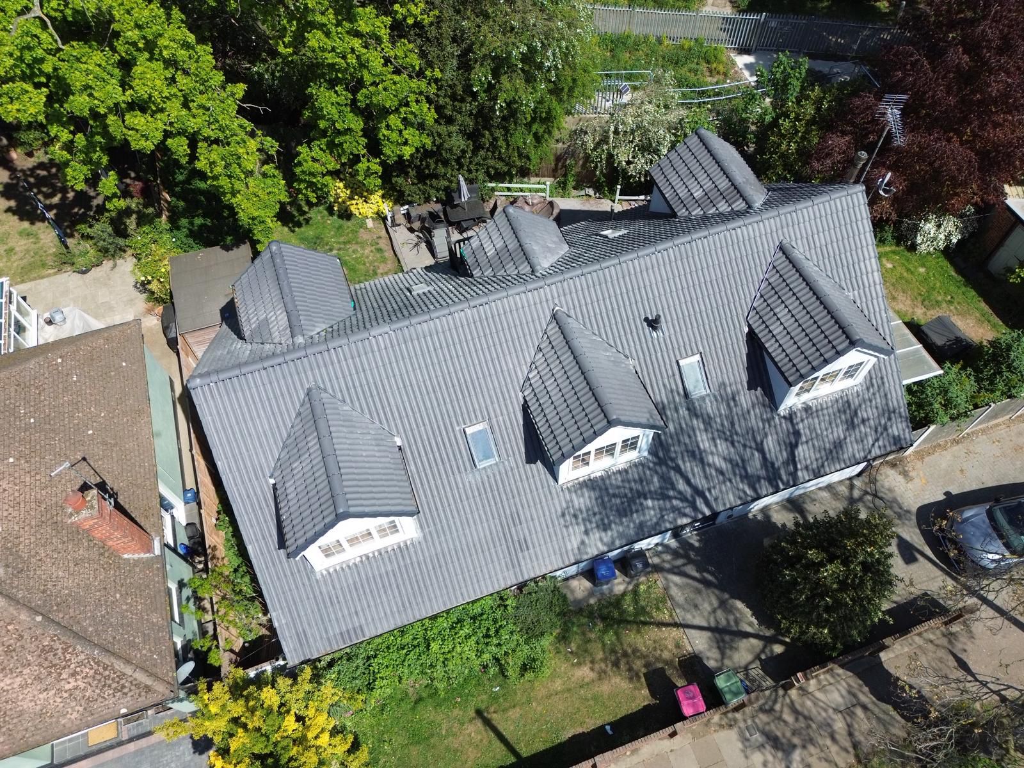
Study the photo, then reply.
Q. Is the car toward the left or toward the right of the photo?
right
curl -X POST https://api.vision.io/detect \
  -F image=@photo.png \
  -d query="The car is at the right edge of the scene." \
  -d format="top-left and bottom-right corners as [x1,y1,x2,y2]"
[934,487,1024,579]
